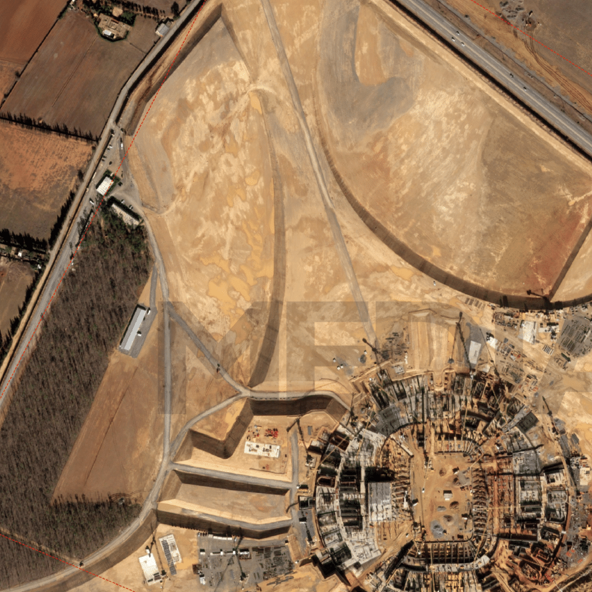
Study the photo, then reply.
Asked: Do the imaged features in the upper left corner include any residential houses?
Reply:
Yes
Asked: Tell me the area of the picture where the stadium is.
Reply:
bottom right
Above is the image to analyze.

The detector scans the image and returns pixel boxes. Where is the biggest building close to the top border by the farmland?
[98,12,132,40]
